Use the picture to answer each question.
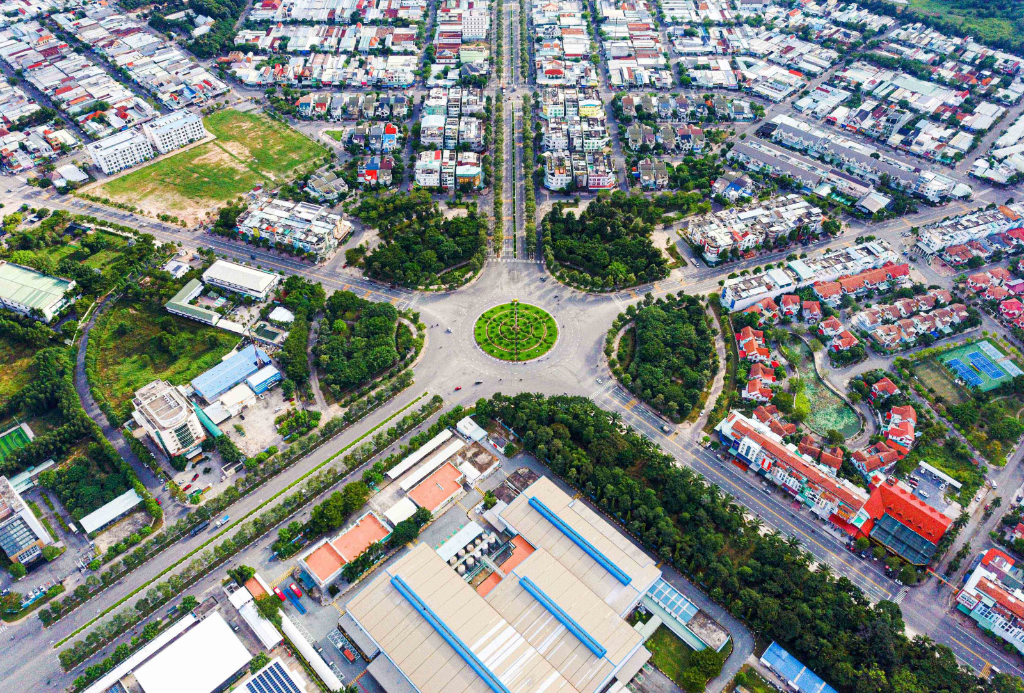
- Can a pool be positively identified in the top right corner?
No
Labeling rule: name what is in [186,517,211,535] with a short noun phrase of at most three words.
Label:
vehicle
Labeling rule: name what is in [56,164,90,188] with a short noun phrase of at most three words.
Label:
building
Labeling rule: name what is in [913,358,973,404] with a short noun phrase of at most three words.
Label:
sports field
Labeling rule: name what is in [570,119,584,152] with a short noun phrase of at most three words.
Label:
house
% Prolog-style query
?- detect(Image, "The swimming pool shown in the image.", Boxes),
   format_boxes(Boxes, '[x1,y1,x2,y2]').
[246,321,285,345]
